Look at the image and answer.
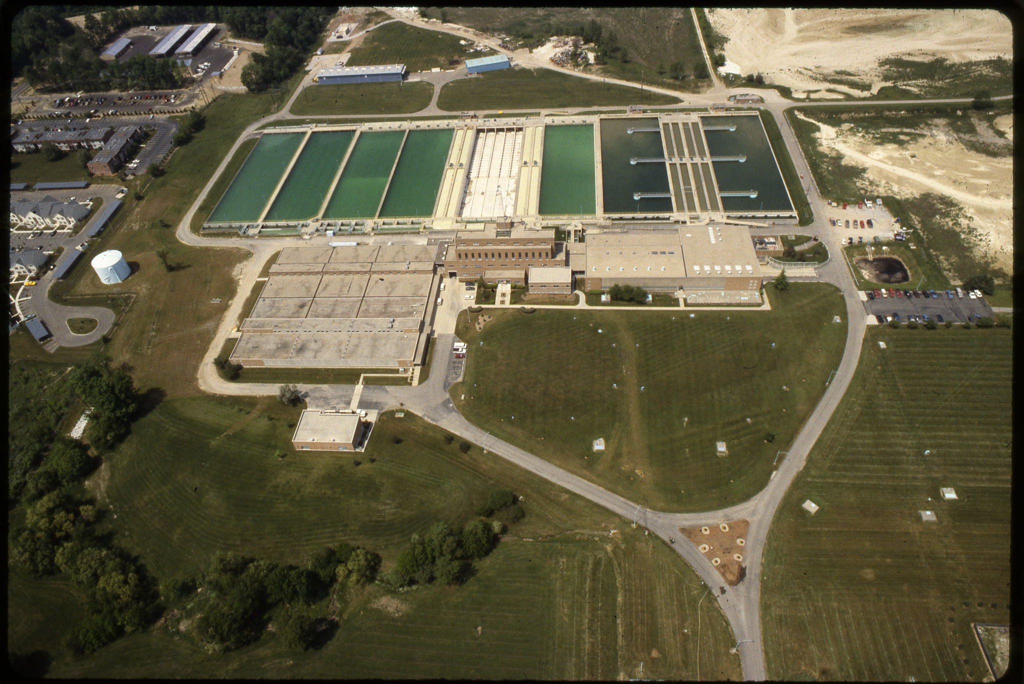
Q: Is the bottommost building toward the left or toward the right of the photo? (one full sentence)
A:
You can find the bottommost building on the left side of the picture.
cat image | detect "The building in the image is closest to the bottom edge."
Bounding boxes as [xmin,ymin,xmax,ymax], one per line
[292,409,364,452]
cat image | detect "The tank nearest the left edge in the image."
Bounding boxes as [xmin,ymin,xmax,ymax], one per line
[94,248,135,286]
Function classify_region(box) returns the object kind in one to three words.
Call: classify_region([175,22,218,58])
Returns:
shed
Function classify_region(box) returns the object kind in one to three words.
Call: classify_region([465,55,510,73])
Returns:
shed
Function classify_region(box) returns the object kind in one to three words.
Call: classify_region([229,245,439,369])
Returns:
building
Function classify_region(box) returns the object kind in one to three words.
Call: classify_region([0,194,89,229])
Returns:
house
